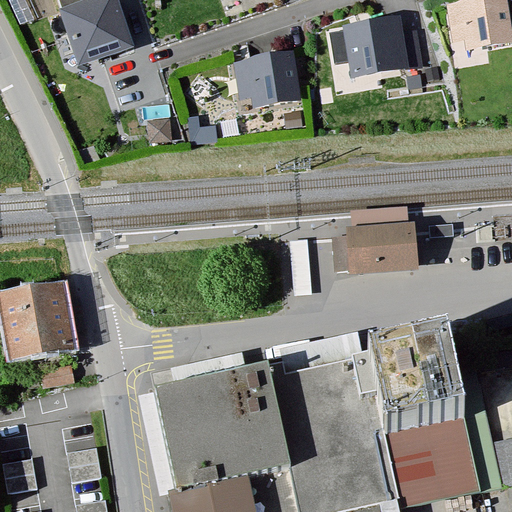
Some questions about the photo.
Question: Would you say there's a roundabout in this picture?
No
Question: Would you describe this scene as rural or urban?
urban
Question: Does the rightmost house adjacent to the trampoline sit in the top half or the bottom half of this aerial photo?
top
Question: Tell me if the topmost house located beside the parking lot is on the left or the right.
left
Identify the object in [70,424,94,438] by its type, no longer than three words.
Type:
car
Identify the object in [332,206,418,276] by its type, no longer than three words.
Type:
building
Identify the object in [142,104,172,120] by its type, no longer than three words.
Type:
swimming pool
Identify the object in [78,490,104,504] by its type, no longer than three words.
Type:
car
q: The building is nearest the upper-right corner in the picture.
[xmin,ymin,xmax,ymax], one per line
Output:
[446,0,512,53]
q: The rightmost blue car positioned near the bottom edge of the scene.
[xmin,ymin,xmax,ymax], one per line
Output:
[75,480,100,494]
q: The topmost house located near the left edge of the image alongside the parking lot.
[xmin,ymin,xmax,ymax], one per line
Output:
[0,279,80,364]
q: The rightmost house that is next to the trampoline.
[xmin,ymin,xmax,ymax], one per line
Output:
[60,0,135,64]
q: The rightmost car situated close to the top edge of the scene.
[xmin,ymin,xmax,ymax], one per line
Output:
[289,24,303,49]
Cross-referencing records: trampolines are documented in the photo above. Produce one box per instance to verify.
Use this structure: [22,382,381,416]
[49,18,66,34]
